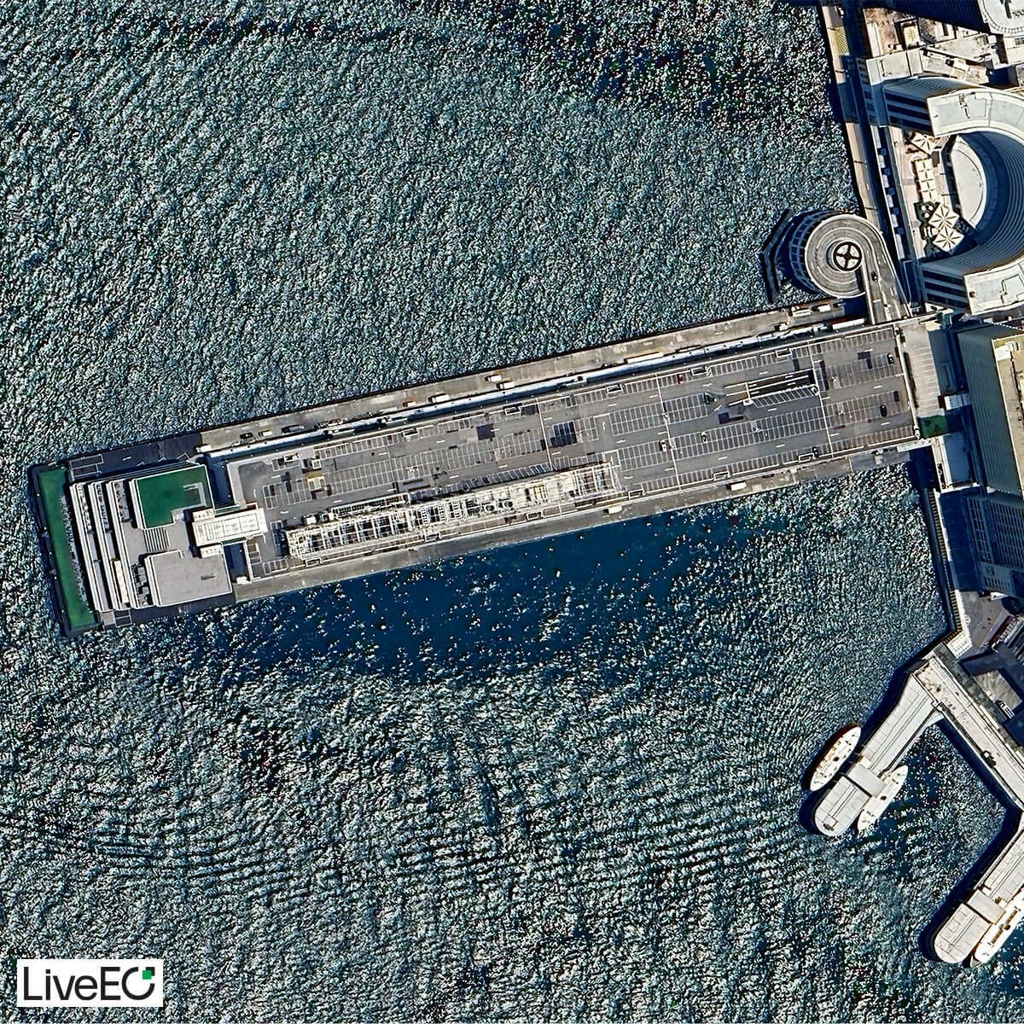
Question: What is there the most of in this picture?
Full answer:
Most of the picture is covered by water.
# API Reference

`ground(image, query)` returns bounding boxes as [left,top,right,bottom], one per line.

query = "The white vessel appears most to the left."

[809,726,860,791]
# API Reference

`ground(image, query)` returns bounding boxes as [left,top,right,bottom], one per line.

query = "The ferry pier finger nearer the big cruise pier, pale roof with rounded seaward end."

[806,673,945,837]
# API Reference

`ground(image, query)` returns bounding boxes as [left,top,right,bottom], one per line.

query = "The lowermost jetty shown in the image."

[924,807,1024,963]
